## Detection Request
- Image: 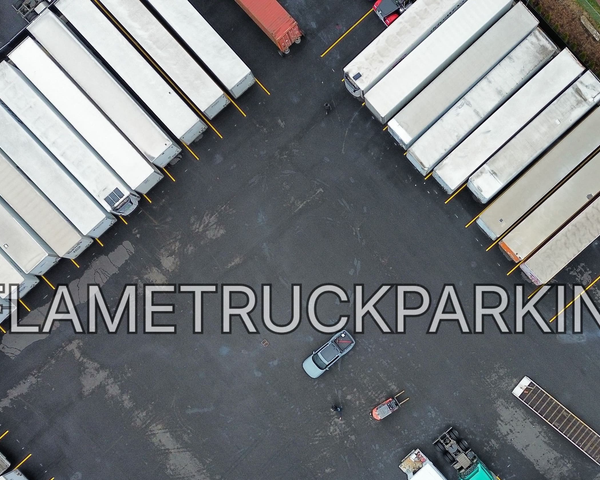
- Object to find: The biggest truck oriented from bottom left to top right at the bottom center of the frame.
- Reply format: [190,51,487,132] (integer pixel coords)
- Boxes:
[304,329,355,379]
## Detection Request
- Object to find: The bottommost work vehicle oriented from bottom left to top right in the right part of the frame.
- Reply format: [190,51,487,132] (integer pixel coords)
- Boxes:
[374,392,409,420]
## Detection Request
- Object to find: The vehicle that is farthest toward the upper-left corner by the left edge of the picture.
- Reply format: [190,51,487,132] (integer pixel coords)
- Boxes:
[10,0,48,24]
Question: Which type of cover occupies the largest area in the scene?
paved ground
